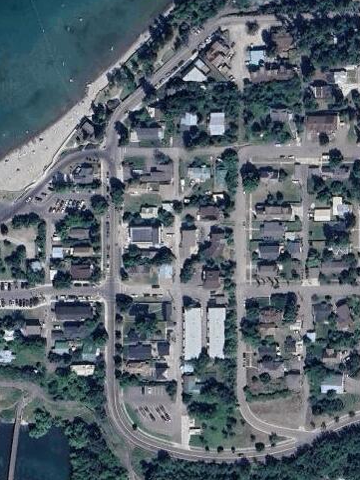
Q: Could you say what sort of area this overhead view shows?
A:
residential area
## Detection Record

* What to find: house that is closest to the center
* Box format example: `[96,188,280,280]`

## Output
[181,224,199,257]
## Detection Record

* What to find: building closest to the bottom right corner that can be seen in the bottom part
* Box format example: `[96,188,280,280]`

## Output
[321,375,346,396]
